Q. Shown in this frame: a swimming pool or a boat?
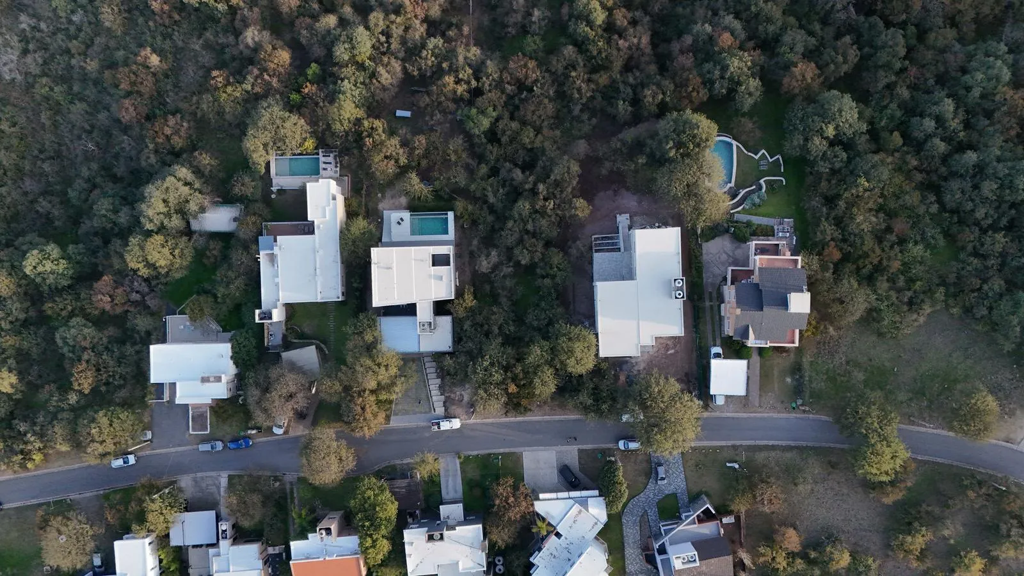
swimming pool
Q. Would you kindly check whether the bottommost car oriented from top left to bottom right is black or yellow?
black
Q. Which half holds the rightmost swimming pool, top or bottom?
top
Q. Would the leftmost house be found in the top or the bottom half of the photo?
bottom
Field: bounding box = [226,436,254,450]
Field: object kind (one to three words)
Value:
vehicle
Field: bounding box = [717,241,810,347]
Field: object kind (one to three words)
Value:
house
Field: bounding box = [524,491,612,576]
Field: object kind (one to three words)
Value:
house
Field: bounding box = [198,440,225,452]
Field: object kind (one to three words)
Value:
vehicle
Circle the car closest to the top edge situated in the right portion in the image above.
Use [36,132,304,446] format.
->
[710,345,722,359]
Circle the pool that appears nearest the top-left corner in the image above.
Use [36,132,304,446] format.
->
[271,149,341,190]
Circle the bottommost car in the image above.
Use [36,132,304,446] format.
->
[91,551,105,574]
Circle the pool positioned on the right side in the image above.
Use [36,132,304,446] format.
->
[707,133,736,193]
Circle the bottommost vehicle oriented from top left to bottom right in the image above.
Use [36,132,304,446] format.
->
[559,464,579,488]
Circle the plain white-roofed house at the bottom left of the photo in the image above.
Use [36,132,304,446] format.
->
[93,526,165,576]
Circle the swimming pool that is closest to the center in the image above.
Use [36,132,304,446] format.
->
[382,210,455,248]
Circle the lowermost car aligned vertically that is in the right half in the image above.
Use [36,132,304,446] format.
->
[655,461,667,484]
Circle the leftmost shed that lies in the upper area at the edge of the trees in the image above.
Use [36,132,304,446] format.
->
[190,205,243,232]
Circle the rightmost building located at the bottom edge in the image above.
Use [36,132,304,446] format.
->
[650,494,734,576]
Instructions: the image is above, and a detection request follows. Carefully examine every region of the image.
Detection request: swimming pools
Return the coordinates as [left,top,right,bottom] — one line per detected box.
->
[707,133,736,193]
[382,210,455,248]
[271,149,341,190]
